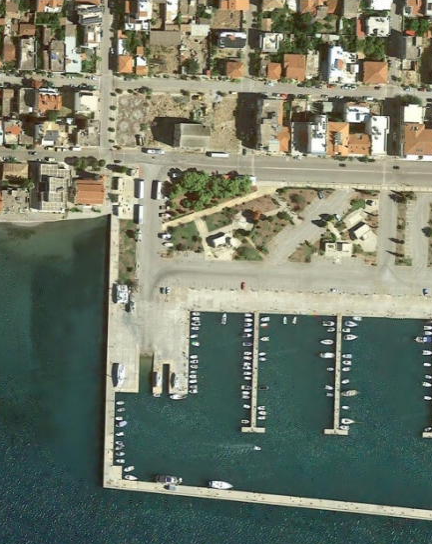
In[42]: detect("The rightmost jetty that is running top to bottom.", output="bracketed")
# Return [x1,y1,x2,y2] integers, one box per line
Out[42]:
[323,316,348,435]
